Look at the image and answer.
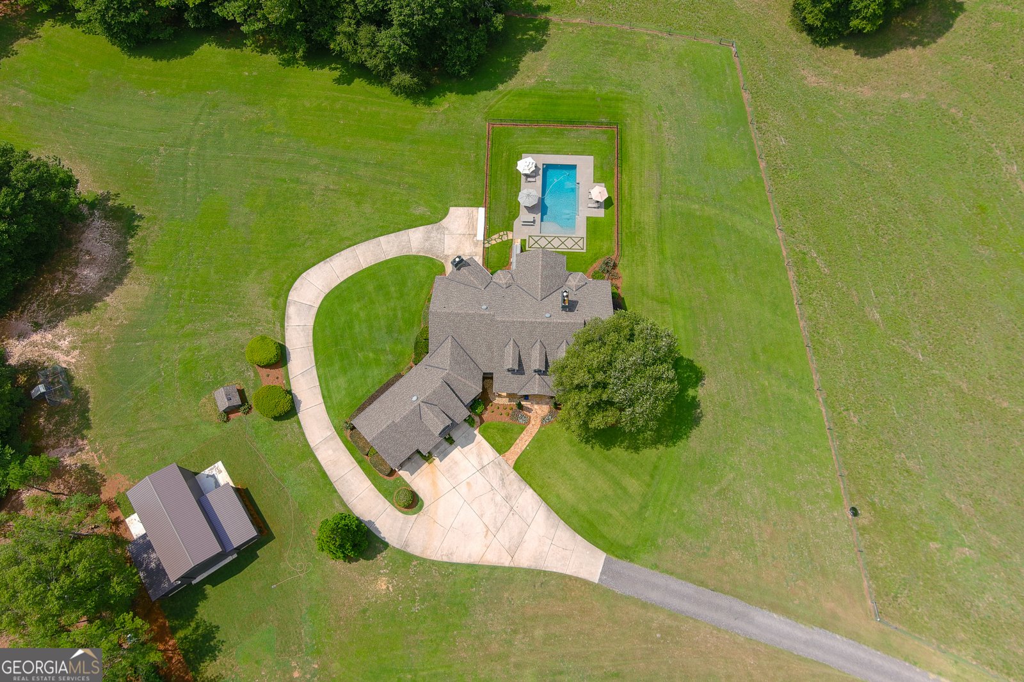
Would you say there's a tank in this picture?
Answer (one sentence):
No, no tank is visible in the scene.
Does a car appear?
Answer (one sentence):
No, the picture doesn't show any car.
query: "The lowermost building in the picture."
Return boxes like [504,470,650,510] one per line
[127,465,260,601]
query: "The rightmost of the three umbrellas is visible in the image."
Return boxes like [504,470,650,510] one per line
[589,187,607,202]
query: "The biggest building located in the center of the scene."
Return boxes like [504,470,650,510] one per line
[351,249,616,467]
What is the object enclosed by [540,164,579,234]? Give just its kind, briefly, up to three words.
swimming pool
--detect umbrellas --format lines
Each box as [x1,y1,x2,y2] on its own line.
[517,160,535,176]
[518,190,538,208]
[589,187,607,202]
